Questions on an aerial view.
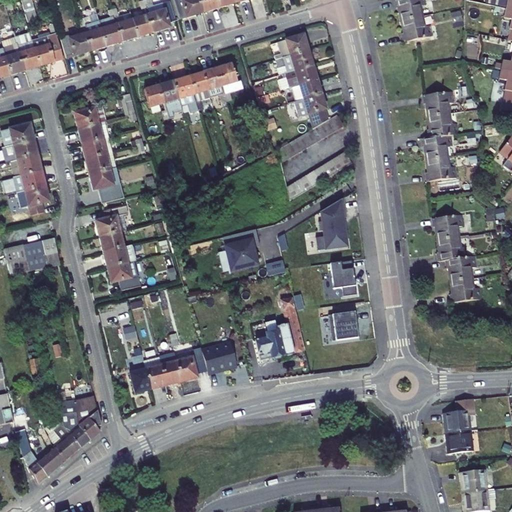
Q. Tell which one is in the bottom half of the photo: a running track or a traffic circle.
traffic circle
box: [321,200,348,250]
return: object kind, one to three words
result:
house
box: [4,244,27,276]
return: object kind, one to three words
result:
building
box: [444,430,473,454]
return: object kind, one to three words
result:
house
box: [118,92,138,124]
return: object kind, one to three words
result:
building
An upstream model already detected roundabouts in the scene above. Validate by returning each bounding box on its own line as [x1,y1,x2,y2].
[365,350,441,423]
